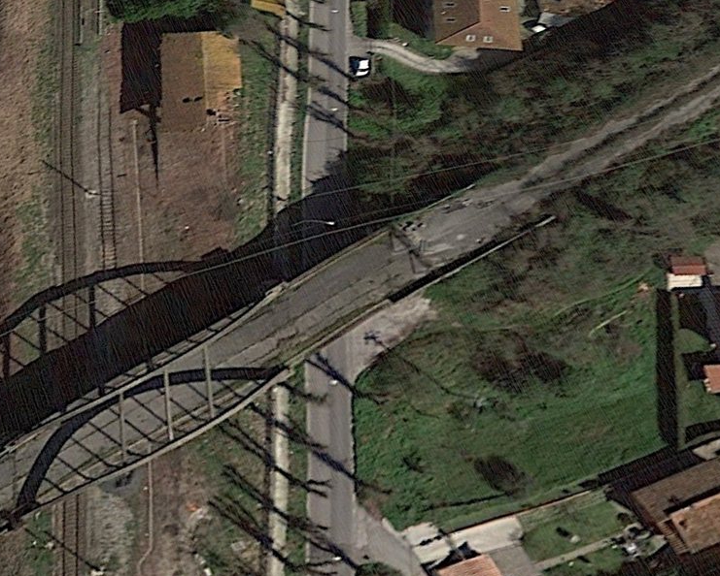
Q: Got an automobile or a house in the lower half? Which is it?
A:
house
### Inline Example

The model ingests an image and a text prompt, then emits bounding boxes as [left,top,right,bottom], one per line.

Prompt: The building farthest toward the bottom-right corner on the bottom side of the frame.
[622,453,720,558]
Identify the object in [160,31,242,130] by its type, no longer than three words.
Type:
barn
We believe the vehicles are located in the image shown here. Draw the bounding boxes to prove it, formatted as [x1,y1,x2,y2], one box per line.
[523,17,552,36]
[355,54,373,79]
